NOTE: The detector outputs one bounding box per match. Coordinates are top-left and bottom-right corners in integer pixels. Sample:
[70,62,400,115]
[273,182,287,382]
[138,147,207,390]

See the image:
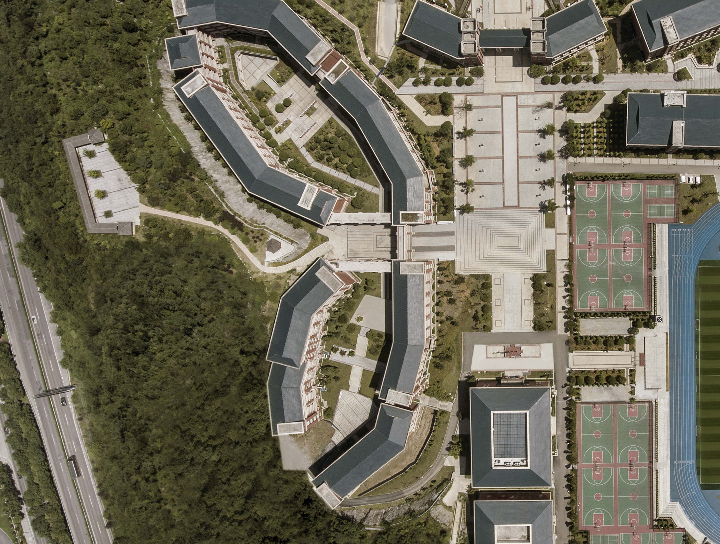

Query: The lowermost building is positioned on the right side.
[473,493,554,544]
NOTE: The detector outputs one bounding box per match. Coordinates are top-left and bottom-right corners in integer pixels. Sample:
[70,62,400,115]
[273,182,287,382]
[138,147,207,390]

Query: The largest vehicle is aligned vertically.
[65,455,80,481]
